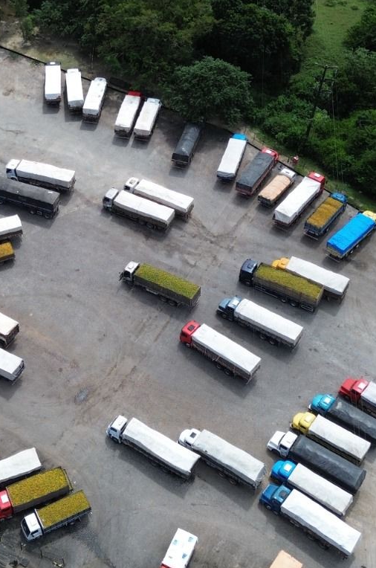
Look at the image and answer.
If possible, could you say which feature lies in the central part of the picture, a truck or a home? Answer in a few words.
truck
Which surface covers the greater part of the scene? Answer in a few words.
paved ground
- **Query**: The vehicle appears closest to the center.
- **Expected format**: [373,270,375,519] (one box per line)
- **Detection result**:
[117,260,198,311]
